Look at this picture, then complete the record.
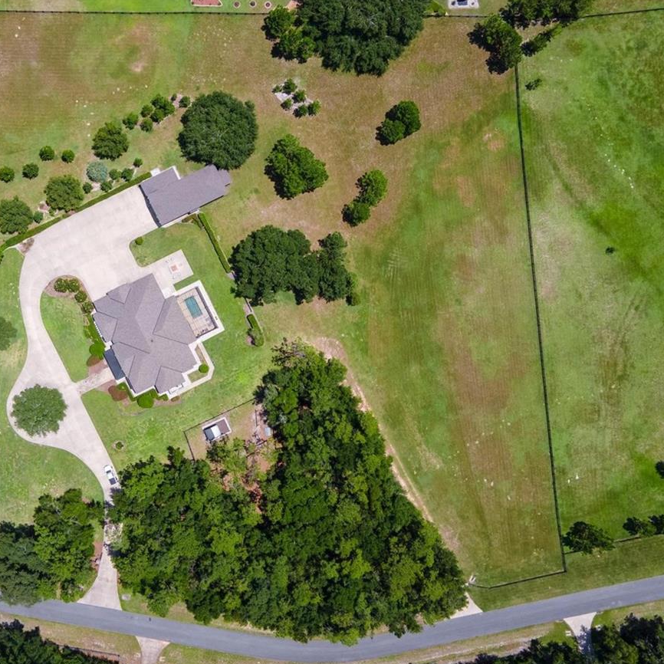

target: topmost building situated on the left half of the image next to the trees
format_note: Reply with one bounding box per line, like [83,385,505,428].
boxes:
[139,165,233,227]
